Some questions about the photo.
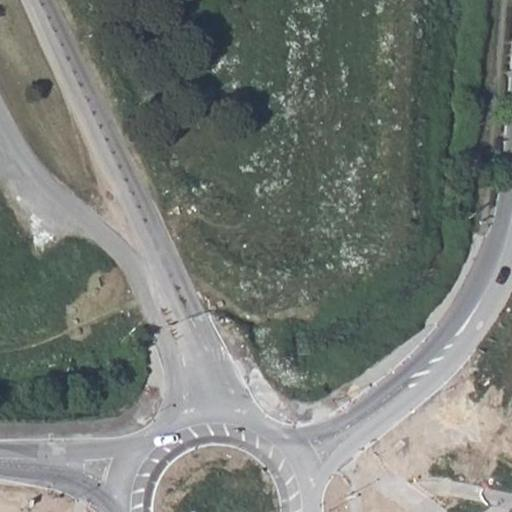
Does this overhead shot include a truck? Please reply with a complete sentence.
No, there's no truck here.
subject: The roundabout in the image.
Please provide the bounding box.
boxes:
[113,405,321,512]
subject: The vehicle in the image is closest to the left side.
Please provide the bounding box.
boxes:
[154,434,180,447]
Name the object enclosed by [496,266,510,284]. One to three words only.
vehicle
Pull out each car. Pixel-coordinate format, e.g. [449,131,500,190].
[496,266,510,284]
[154,434,180,447]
